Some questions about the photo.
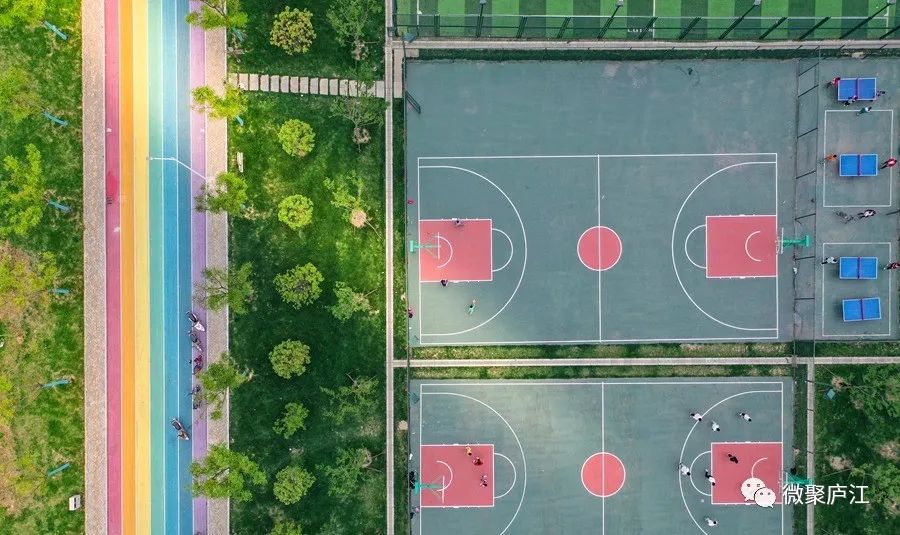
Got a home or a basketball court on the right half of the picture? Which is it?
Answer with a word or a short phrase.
basketball court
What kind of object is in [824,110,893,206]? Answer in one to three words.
tennis court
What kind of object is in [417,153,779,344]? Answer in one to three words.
basketball court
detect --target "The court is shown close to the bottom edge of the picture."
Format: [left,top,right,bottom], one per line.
[420,382,785,535]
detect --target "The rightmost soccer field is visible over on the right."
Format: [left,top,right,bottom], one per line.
[398,0,900,39]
